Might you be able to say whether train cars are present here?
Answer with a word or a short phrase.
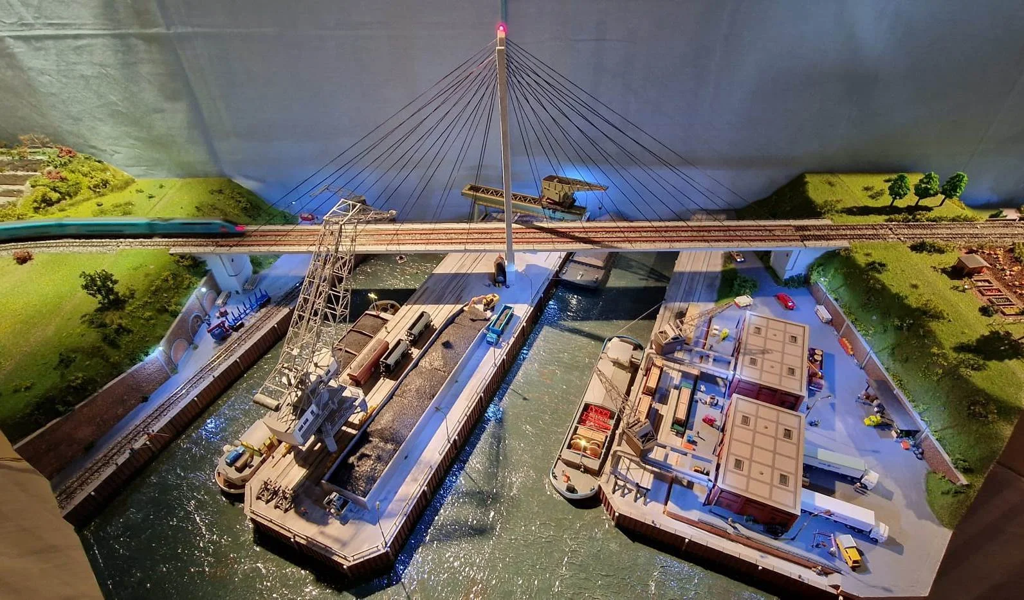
Yes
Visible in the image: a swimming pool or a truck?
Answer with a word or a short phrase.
truck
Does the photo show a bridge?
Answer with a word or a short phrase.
Yes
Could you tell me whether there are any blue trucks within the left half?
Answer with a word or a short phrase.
Yes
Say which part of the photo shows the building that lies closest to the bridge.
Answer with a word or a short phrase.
right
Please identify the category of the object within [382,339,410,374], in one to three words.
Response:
rail car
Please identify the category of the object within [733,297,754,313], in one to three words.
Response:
vehicle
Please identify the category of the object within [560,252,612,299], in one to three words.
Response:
ship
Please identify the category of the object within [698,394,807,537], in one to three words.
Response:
building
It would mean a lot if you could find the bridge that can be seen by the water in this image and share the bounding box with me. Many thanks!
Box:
[172,27,848,287]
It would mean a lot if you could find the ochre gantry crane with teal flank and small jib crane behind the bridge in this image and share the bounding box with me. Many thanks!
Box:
[472,177,616,223]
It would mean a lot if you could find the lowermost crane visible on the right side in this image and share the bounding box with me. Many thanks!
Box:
[592,366,721,490]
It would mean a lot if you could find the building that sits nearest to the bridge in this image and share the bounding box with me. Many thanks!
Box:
[718,309,811,412]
